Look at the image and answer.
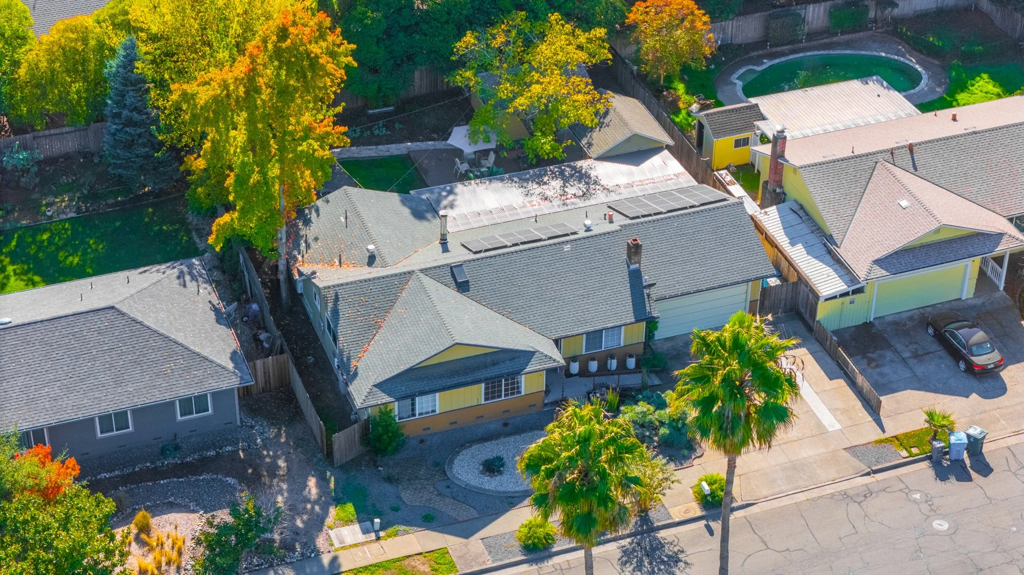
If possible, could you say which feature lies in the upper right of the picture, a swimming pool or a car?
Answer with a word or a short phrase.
swimming pool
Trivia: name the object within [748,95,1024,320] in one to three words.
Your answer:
house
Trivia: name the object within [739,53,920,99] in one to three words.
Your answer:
swimming pool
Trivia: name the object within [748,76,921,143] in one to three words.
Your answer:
building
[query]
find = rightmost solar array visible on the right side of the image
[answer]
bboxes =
[605,184,731,216]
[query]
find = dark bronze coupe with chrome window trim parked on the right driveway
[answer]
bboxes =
[927,310,1007,376]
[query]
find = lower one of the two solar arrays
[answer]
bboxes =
[462,221,578,251]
